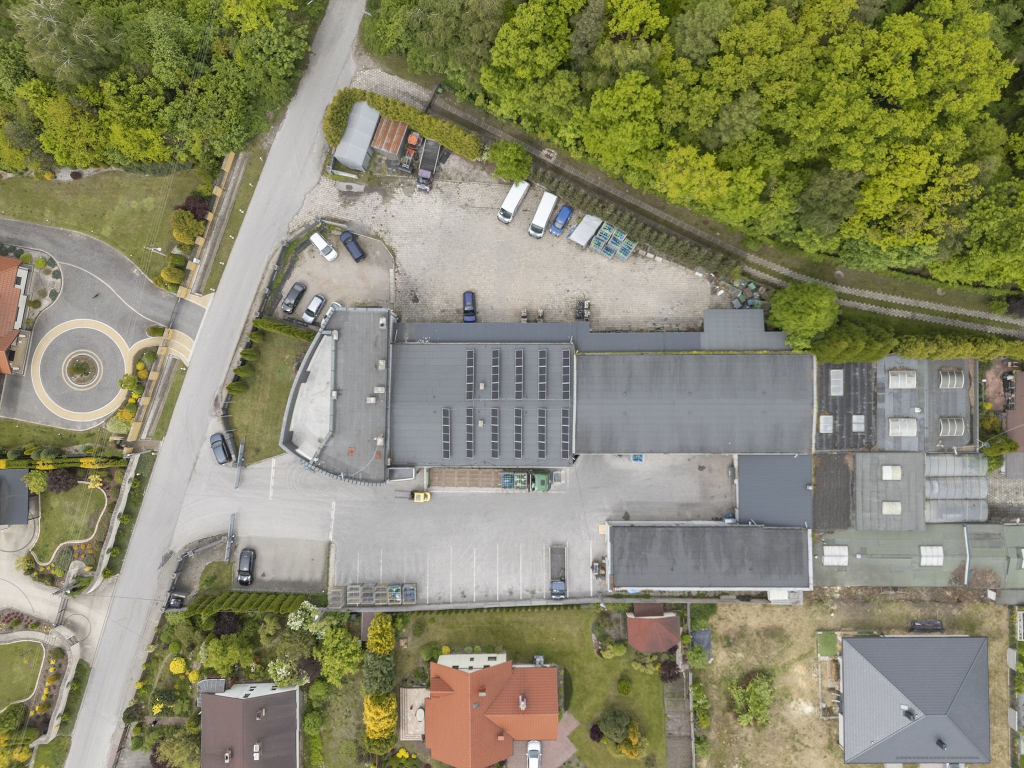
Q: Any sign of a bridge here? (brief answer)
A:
No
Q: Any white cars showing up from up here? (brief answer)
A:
Yes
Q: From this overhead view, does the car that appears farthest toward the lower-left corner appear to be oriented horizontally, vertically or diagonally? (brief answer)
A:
vertically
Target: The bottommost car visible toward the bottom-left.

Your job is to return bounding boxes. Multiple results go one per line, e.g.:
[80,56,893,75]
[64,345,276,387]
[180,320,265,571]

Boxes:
[235,547,255,584]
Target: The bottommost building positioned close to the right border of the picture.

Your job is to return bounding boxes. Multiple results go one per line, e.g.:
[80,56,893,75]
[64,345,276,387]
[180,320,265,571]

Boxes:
[837,632,988,765]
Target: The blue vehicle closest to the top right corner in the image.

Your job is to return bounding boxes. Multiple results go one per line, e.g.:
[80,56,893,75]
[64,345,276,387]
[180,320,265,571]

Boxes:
[551,204,573,237]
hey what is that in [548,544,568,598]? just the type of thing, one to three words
vehicle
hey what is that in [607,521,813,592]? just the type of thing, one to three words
building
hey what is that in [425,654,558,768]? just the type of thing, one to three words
house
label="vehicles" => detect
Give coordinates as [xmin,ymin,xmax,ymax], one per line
[318,301,341,330]
[548,544,568,598]
[551,204,573,237]
[282,281,307,315]
[235,547,255,584]
[400,130,423,179]
[340,230,366,264]
[525,740,542,768]
[426,470,552,492]
[461,292,477,323]
[397,492,431,502]
[302,293,326,325]
[499,178,528,225]
[529,190,558,240]
[209,432,232,466]
[310,230,337,263]
[416,138,443,195]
